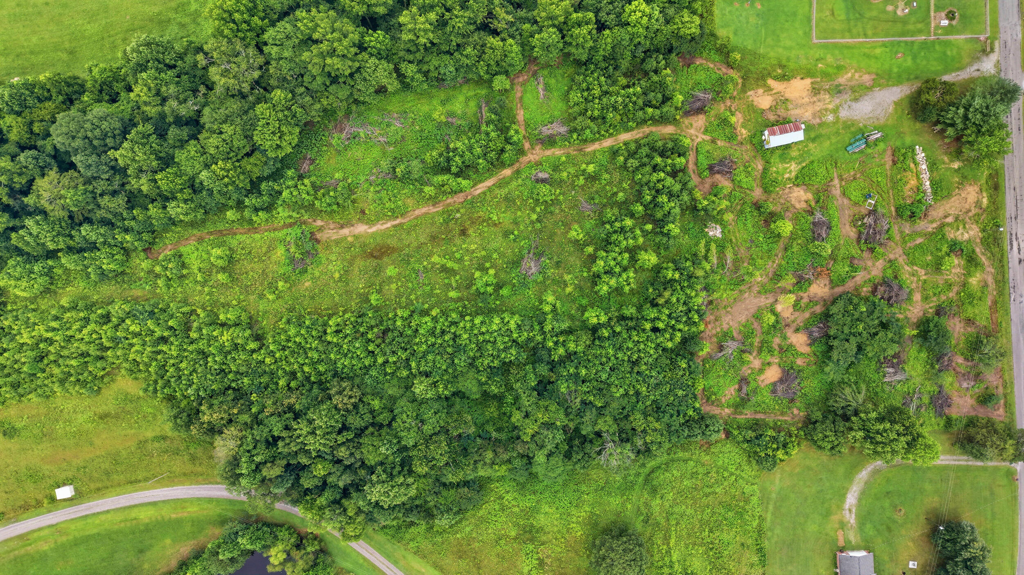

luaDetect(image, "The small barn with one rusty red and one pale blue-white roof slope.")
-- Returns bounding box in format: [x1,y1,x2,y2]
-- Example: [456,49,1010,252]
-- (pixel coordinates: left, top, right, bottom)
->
[761,121,809,149]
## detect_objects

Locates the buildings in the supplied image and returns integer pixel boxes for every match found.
[827,548,881,575]
[52,485,76,502]
[761,121,809,149]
